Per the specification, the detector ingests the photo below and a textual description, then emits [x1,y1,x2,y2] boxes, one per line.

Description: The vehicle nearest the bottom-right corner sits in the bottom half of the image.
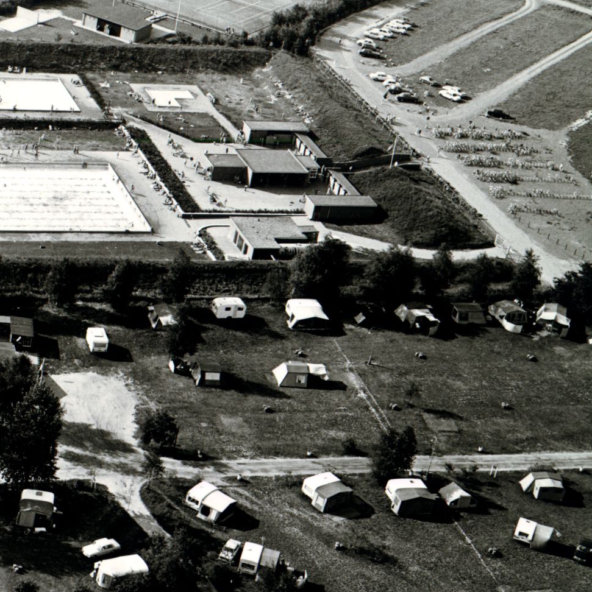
[574,537,592,561]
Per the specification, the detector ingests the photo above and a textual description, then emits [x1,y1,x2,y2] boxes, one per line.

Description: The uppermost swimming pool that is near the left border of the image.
[0,73,80,113]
